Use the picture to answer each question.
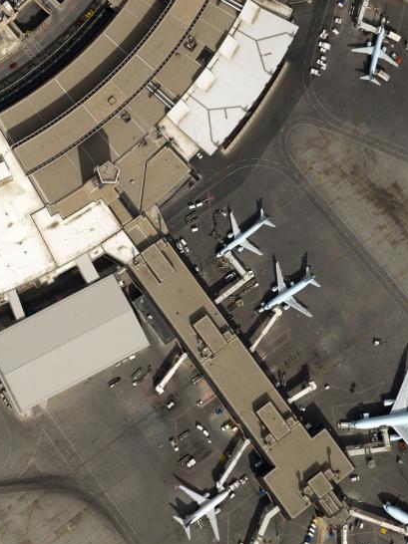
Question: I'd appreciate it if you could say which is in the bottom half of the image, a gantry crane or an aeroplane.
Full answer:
You can see an aeroplane in the bottom half of the image.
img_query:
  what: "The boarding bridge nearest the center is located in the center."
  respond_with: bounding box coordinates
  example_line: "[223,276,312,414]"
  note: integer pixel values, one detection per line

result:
[215,246,251,304]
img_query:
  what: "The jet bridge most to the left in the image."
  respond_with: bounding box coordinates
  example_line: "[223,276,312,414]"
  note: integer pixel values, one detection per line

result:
[151,353,187,395]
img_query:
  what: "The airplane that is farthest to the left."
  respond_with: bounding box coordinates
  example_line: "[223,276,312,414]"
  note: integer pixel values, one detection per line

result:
[176,486,232,541]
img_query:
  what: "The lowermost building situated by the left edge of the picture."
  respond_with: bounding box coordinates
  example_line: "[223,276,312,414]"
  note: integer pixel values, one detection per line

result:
[0,269,149,413]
